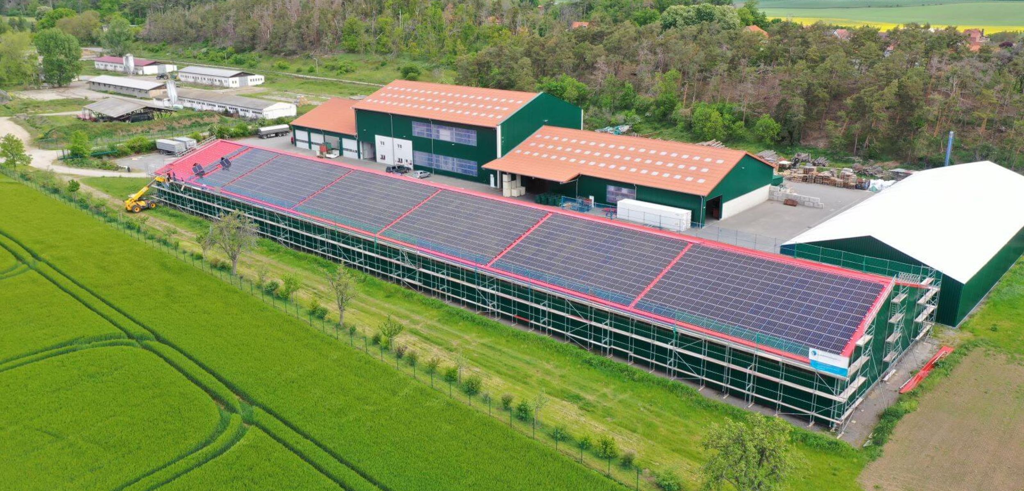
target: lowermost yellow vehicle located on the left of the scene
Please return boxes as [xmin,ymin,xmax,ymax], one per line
[120,173,166,213]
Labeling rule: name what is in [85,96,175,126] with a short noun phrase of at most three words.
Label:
barn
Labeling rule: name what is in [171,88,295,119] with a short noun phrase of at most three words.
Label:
shed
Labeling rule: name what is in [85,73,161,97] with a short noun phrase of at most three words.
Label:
shed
